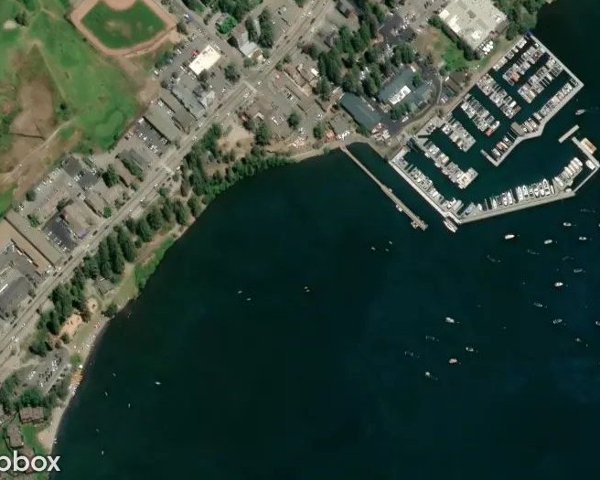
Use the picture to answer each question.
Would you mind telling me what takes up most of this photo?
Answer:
water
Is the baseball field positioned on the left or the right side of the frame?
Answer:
left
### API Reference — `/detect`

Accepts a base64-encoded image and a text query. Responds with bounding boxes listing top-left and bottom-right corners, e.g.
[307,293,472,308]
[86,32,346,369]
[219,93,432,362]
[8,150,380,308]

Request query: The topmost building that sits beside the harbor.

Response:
[439,0,510,52]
